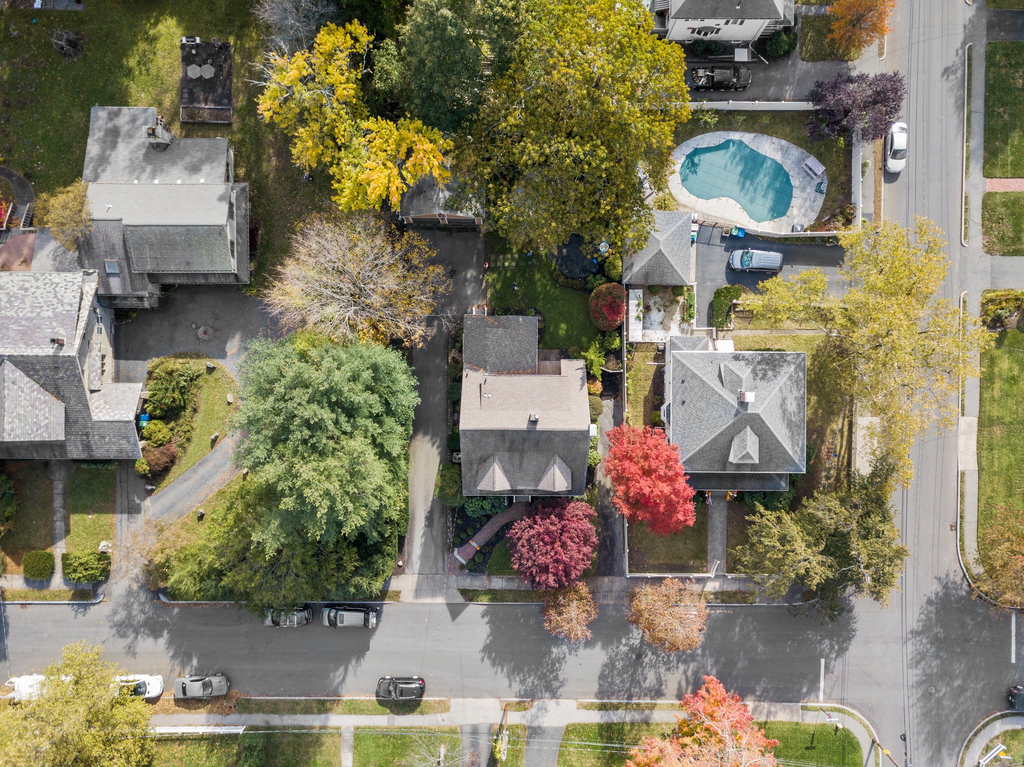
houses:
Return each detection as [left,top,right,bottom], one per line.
[0,272,151,460]
[460,306,598,504]
[646,335,808,495]
[664,0,794,64]
[80,106,257,309]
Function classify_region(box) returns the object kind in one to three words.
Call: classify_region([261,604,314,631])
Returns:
car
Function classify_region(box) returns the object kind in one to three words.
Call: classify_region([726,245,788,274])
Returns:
vehicle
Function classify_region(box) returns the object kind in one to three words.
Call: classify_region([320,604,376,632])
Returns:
car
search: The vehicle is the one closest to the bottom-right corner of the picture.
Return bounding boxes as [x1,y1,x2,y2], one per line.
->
[1003,686,1024,714]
